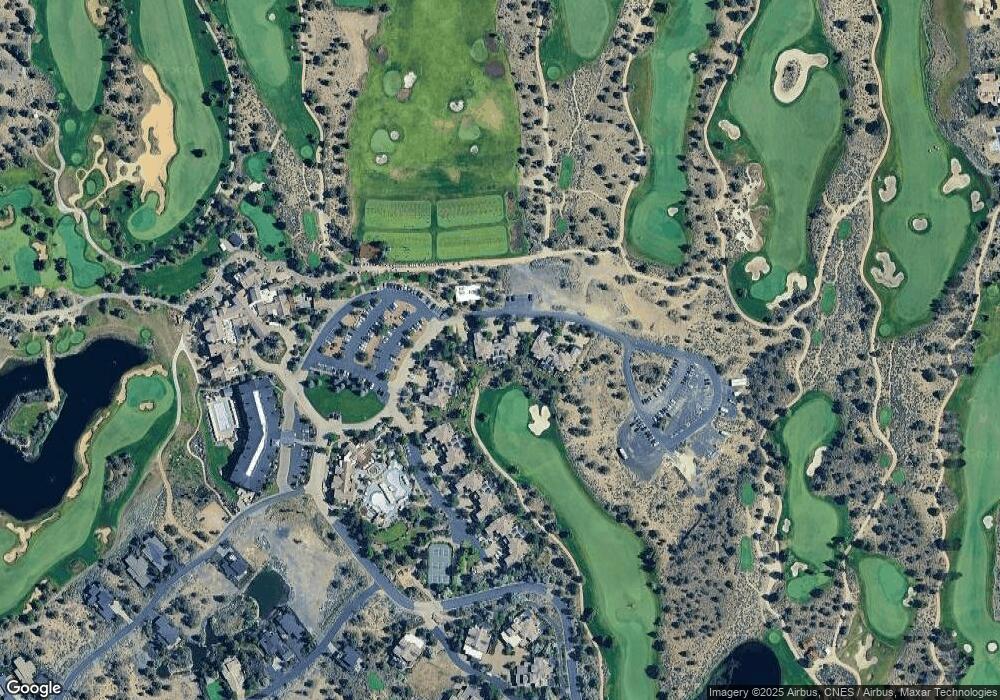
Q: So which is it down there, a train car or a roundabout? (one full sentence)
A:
Looking from above, you can make out a roundabout.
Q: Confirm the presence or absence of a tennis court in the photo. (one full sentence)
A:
Yes, the picture does show a tennis court.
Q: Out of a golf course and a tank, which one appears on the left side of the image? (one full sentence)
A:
The one visible on the left side of the image is a golf course.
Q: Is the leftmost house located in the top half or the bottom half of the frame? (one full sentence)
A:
It is in the bottom half that the leftmost house appears.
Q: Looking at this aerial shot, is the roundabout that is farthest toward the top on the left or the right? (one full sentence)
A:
It is on the left.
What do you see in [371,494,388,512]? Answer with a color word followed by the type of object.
white swimming pool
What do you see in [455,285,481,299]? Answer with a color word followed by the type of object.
white tent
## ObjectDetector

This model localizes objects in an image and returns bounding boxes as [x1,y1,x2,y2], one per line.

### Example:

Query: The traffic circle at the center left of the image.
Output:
[246,324,295,373]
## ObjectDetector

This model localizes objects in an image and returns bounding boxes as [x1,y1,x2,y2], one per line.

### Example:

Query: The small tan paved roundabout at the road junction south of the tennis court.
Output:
[412,599,450,630]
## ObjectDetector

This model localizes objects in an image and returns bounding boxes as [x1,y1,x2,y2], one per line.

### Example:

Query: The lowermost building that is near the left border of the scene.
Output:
[11,657,39,687]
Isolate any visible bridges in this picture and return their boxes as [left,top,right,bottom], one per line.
[41,329,62,407]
